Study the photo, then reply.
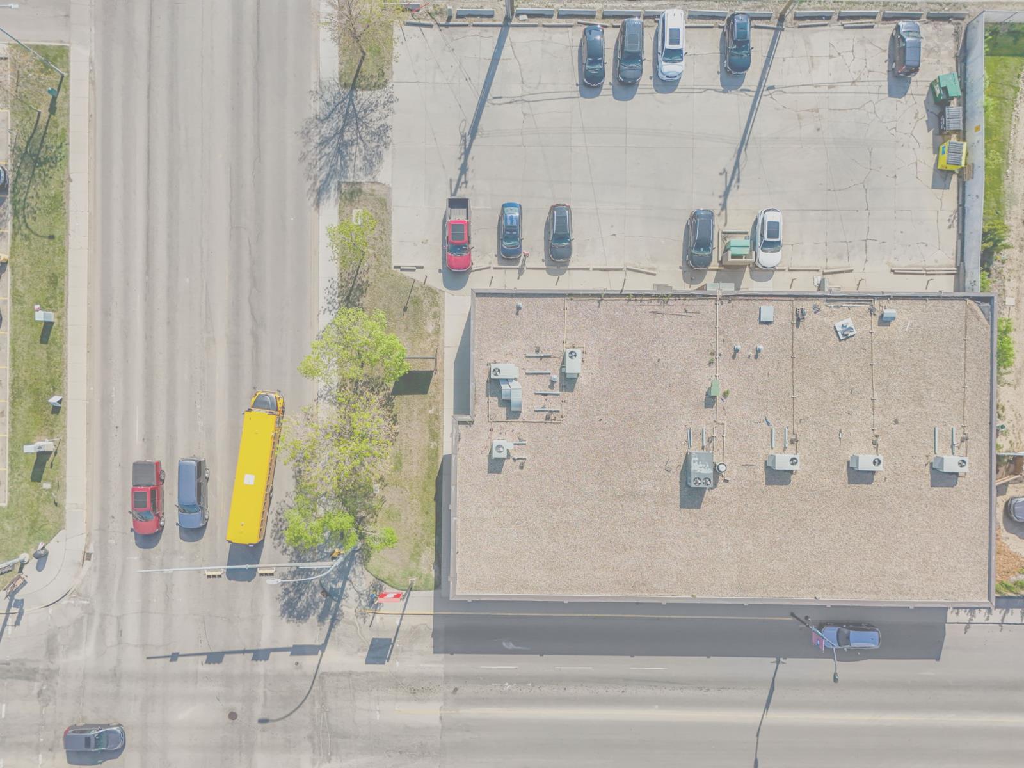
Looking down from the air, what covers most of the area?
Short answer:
paved ground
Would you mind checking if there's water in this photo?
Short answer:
No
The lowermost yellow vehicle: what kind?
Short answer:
bus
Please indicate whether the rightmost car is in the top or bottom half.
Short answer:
bottom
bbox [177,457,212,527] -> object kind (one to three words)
car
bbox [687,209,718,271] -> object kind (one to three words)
car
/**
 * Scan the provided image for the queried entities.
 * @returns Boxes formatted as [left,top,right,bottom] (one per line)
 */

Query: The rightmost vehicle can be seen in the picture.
[1001,496,1024,522]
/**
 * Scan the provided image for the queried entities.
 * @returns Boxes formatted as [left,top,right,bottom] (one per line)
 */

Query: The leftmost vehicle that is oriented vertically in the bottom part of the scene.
[130,458,167,535]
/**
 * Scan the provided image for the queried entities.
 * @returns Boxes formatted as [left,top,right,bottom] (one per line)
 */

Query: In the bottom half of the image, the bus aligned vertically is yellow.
[225,387,291,545]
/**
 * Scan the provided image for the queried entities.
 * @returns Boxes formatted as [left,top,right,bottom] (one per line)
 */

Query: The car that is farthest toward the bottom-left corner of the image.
[63,719,130,754]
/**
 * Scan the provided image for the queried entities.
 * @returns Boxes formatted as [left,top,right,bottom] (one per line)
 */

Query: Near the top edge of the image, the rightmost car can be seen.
[889,20,925,79]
